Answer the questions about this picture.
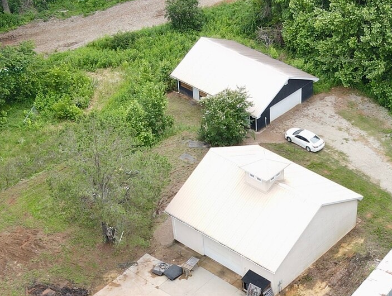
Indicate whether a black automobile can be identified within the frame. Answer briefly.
No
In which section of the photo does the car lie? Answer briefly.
right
